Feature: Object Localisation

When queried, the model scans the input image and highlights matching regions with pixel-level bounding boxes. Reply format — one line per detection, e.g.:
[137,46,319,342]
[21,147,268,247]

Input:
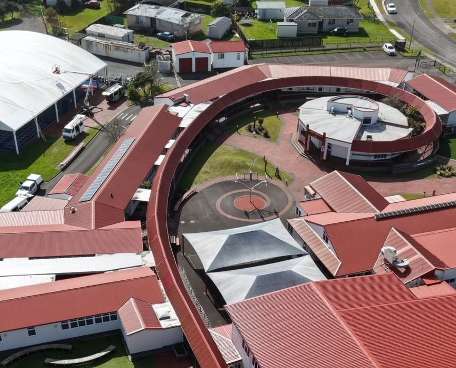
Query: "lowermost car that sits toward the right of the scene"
[383,40,397,53]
